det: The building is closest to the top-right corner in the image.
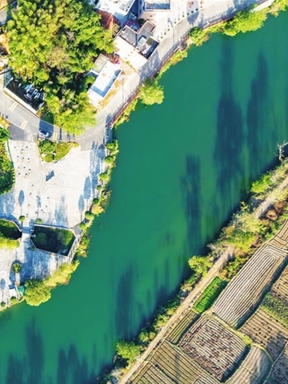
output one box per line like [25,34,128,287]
[139,0,172,17]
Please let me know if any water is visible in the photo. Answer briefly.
Yes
